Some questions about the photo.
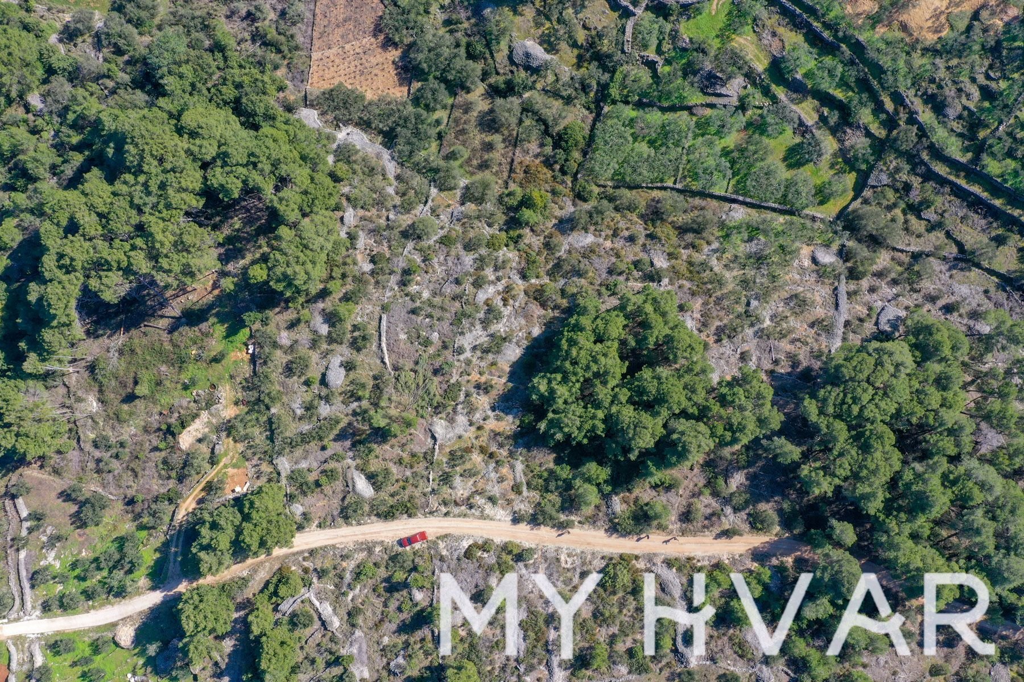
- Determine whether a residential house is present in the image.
No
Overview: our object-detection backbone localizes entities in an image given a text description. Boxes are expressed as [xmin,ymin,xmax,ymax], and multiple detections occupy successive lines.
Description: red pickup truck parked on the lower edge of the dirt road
[400,532,428,549]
